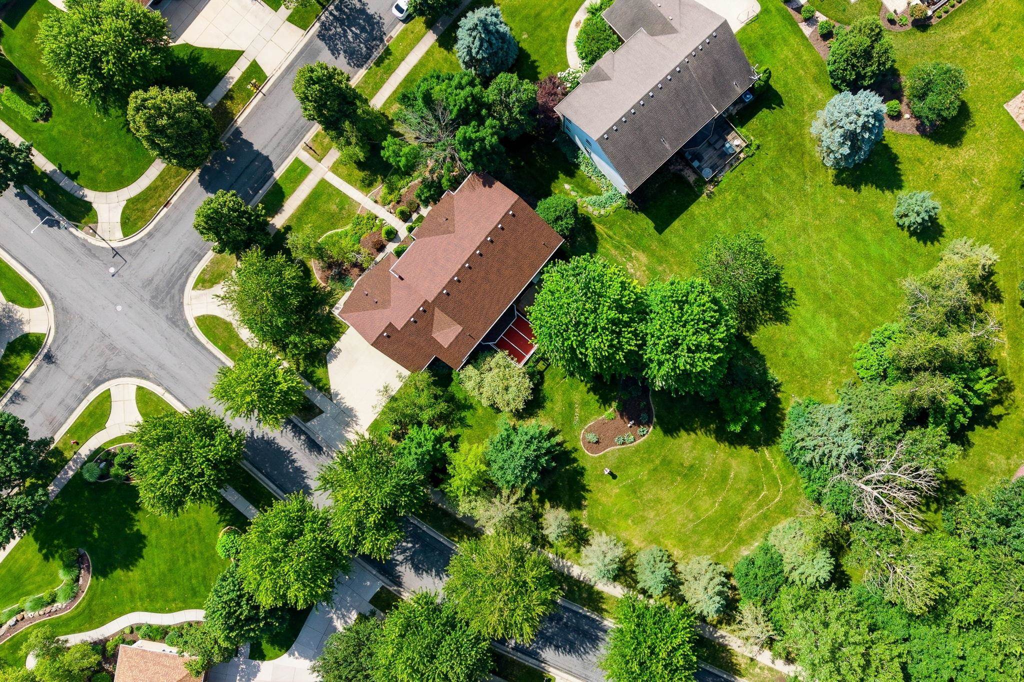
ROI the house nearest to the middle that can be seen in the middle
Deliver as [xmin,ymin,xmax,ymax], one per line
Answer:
[338,172,564,377]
